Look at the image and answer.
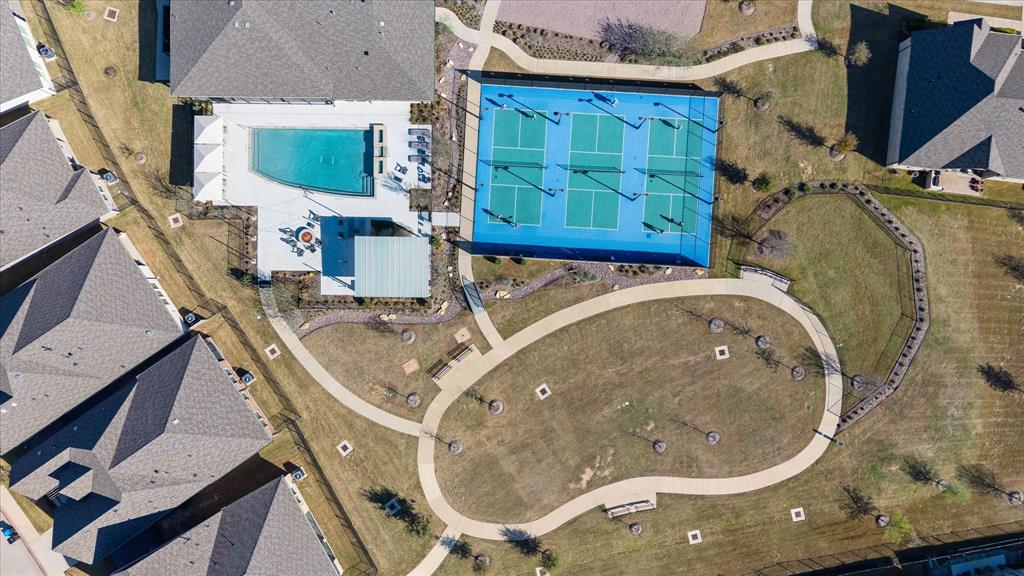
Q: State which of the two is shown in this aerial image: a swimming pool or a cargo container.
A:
swimming pool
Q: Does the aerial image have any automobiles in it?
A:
No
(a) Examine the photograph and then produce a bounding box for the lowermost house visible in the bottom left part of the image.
[108,471,348,576]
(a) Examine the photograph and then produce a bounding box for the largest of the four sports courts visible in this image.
[471,84,719,266]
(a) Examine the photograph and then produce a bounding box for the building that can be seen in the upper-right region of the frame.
[888,19,1024,181]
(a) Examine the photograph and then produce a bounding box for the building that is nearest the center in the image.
[349,234,429,297]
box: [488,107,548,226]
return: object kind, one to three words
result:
sports court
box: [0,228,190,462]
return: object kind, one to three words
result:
house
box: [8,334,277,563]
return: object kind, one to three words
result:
house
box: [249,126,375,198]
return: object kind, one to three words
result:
swimming pool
